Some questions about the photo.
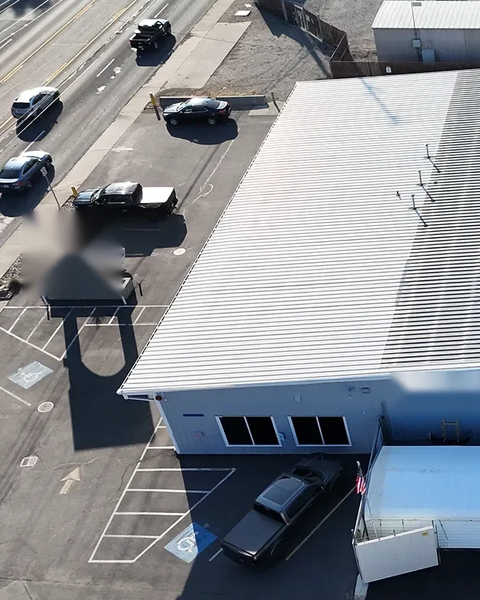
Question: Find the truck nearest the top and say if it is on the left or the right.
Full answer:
The truck nearest the top appears in the left half of the scene.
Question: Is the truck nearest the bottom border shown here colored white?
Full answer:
No, the truck nearest the bottom border is actually black.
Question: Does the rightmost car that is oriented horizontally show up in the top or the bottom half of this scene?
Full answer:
Seen from above, the rightmost car that is oriented horizontally lies in the top half of the view.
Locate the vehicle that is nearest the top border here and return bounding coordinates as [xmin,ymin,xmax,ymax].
[124,11,177,47]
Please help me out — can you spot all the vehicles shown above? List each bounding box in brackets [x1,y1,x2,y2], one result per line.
[156,93,238,123]
[0,147,58,193]
[124,11,177,47]
[218,452,364,581]
[73,168,187,212]
[7,88,64,124]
